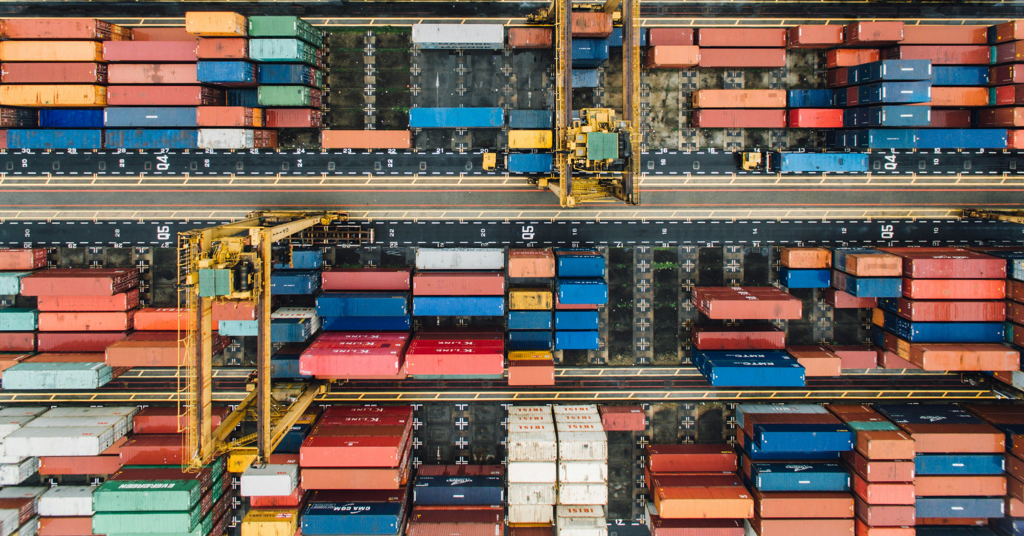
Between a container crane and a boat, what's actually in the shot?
container crane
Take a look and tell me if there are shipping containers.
Yes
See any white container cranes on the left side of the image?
No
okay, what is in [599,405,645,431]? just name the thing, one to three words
shipping container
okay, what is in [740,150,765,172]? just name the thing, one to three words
work vehicle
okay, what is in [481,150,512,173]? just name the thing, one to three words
work vehicle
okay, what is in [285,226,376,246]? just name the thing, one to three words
trailer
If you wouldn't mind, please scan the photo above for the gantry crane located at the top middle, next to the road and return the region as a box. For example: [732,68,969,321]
[519,0,646,208]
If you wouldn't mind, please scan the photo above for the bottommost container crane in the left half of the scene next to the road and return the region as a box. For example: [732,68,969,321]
[166,207,350,473]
